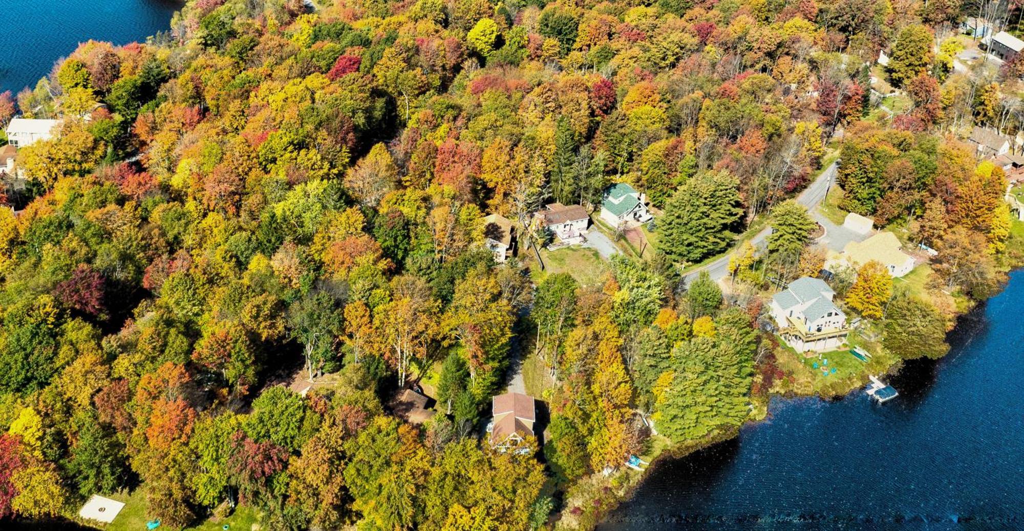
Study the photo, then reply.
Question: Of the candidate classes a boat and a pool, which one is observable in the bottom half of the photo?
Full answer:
You can see a boat in the bottom half of the photo.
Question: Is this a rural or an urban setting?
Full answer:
From above, the setting appears rural.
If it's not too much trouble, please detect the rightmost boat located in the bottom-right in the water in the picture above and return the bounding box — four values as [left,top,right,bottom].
[872,382,902,407]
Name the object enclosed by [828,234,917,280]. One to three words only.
house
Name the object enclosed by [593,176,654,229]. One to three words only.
building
